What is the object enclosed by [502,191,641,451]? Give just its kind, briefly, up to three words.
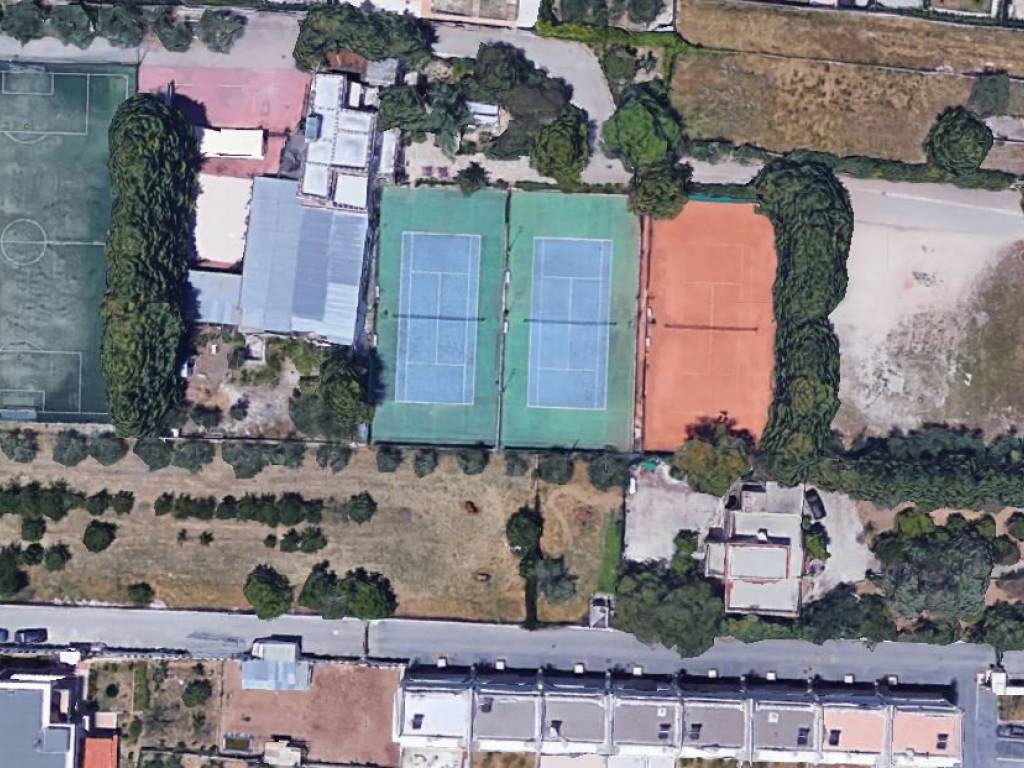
tennis court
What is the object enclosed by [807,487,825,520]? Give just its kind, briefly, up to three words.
car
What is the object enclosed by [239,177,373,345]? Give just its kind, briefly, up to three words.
building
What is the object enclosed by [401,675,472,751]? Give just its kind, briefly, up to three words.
house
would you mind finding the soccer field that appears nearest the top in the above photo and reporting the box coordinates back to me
[0,63,135,416]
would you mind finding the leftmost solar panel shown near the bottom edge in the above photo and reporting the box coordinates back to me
[412,714,425,731]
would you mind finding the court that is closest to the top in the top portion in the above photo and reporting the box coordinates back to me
[138,67,311,178]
